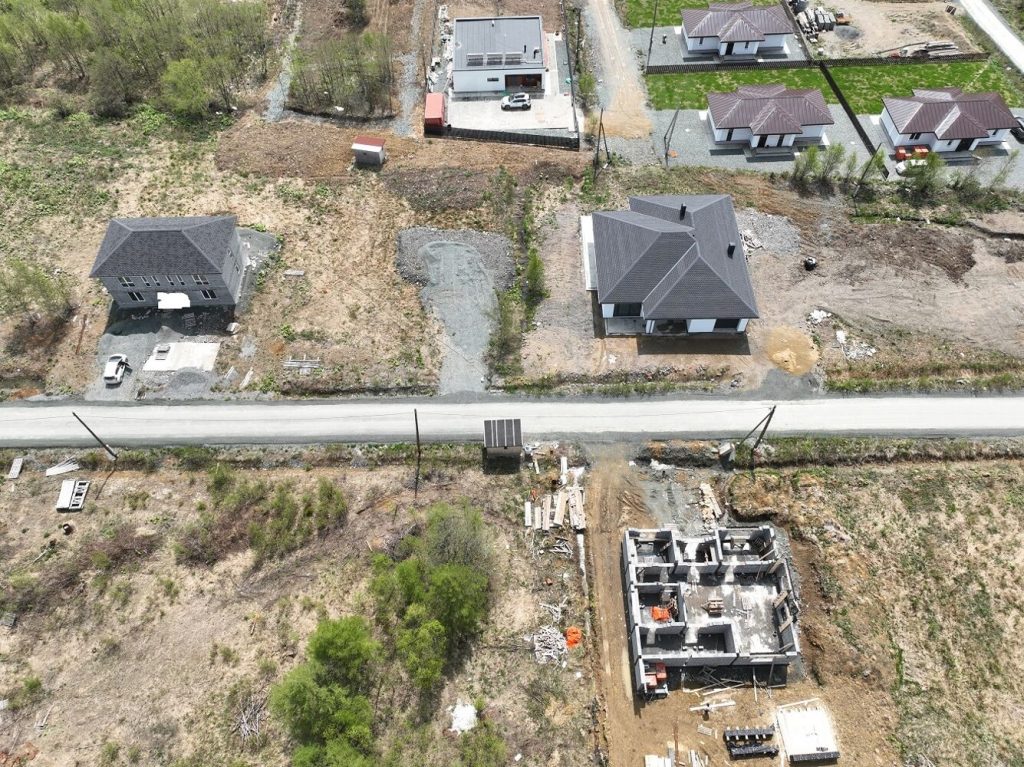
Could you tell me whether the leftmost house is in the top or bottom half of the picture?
top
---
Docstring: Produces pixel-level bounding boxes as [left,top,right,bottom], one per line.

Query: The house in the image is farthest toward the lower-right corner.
[623,526,801,695]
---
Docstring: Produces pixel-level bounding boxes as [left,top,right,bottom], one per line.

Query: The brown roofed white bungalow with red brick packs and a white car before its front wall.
[864,89,1024,163]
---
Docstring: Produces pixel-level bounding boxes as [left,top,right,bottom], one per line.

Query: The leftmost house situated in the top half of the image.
[87,215,252,311]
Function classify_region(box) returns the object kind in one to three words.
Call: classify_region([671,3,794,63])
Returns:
house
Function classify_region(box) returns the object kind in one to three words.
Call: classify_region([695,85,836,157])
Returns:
house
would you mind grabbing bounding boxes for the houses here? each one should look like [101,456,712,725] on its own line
[623,526,801,695]
[87,215,252,311]
[864,89,1024,163]
[671,3,794,63]
[452,15,545,97]
[695,85,836,157]
[584,194,765,337]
